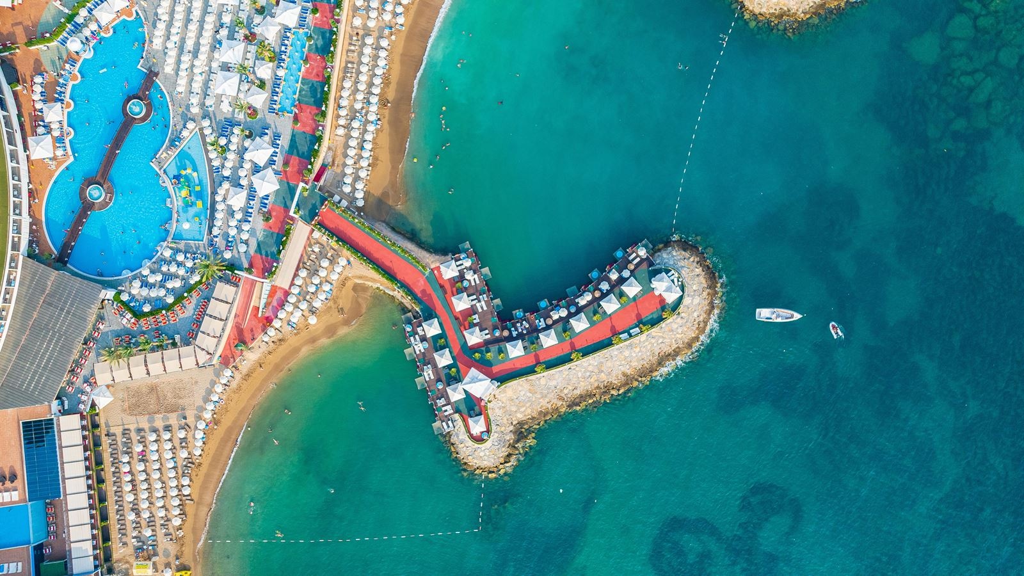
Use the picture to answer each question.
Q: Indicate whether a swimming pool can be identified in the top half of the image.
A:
Yes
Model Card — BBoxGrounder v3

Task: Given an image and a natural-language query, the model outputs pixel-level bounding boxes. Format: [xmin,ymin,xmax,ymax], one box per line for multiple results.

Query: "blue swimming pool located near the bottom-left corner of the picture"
[0,501,48,551]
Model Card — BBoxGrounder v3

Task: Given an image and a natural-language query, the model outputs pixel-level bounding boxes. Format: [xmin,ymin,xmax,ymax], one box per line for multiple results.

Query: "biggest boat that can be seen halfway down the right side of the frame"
[754,309,802,322]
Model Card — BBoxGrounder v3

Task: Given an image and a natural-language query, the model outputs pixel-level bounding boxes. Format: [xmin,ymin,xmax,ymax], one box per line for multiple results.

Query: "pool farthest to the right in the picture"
[276,29,311,115]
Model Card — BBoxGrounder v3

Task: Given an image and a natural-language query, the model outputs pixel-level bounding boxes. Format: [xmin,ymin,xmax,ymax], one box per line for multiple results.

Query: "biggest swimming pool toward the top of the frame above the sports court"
[42,7,175,279]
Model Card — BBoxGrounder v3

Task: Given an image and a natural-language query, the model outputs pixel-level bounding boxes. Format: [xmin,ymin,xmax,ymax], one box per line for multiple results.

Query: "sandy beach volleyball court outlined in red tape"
[122,374,198,419]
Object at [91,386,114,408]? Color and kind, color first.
white gazebo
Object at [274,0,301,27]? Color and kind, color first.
white umbrella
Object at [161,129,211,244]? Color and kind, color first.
blue swimming pool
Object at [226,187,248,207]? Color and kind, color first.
white umbrella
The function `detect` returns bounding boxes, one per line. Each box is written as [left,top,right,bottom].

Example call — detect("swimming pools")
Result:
[42,7,175,279]
[161,129,211,244]
[0,501,48,551]
[276,29,311,115]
